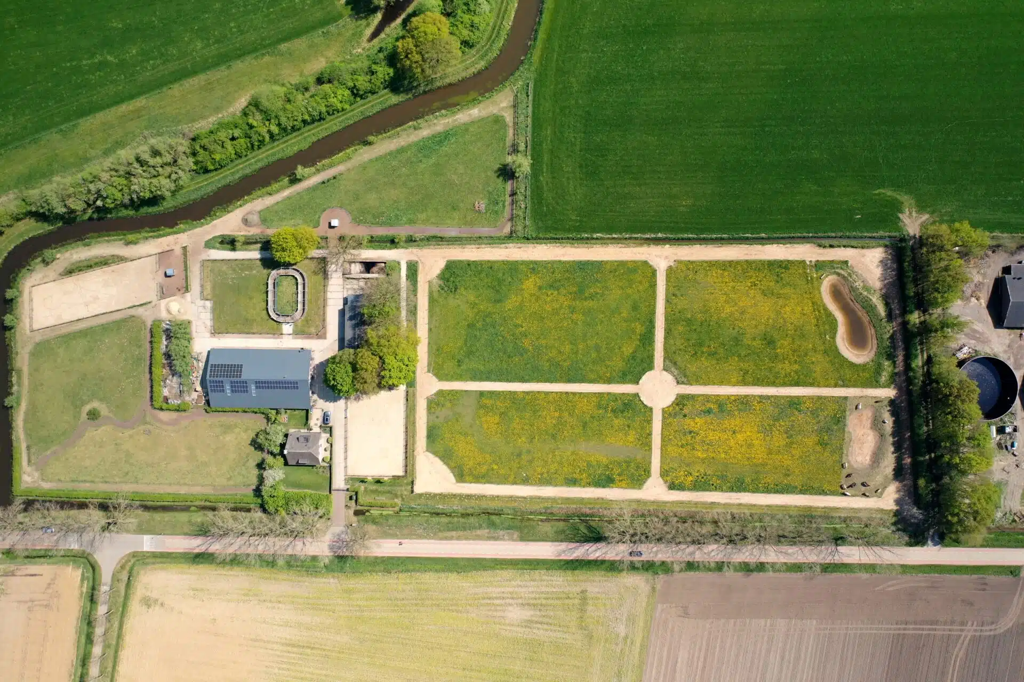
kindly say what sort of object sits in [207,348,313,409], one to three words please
barn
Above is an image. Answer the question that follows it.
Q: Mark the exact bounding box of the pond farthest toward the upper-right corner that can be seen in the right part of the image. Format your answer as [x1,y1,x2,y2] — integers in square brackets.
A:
[826,279,874,355]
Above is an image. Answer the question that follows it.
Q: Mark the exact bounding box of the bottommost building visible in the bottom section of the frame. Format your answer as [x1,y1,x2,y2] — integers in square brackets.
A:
[283,432,323,465]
